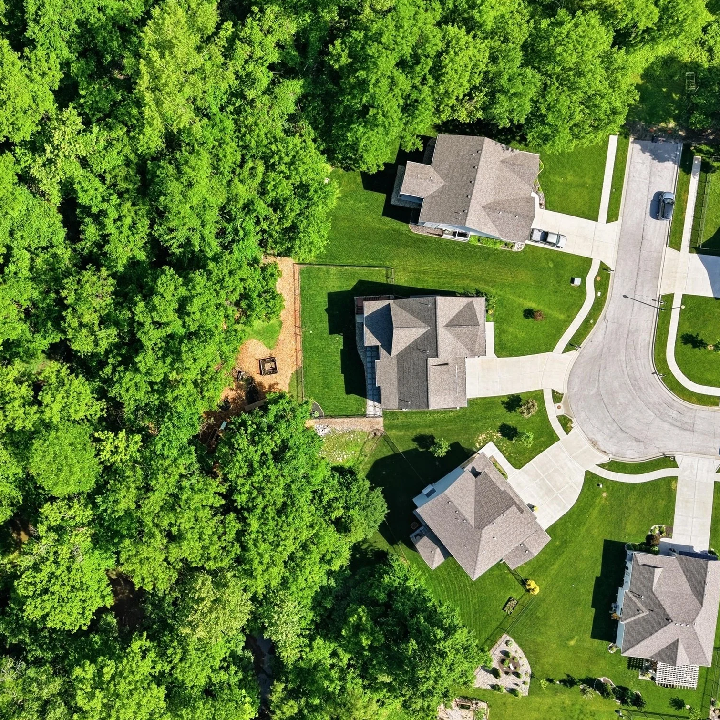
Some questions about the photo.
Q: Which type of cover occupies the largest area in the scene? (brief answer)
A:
trees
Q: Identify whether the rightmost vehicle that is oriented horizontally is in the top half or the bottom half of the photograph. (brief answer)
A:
top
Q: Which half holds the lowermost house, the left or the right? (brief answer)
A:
right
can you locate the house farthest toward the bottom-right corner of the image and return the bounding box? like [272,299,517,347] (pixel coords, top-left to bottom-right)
[615,551,720,667]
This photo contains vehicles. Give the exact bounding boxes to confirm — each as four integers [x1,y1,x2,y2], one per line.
[657,191,676,221]
[529,228,568,248]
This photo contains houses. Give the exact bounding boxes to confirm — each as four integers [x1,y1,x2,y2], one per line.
[414,452,551,581]
[363,296,486,409]
[615,551,720,667]
[400,134,540,243]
